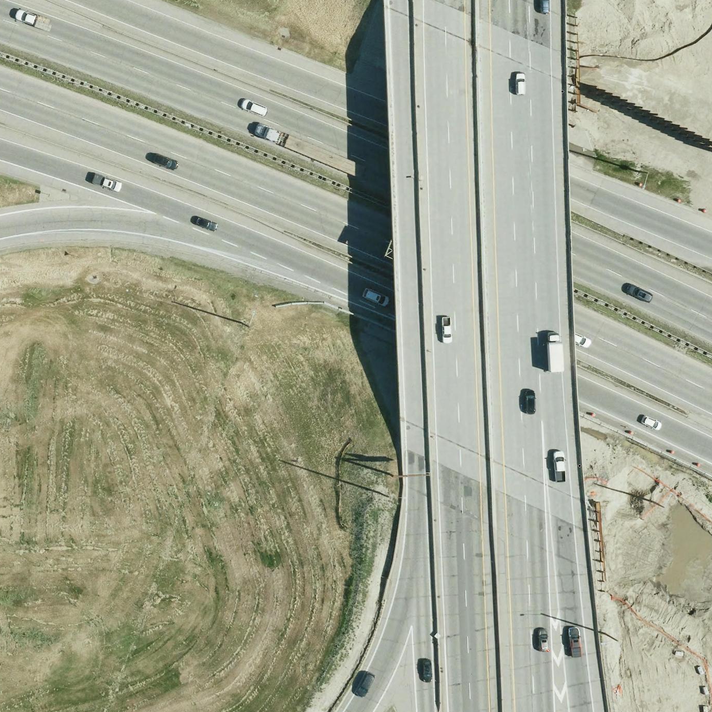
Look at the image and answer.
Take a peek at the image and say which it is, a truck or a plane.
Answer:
truck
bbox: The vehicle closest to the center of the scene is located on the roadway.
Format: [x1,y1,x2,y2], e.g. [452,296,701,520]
[362,288,389,306]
